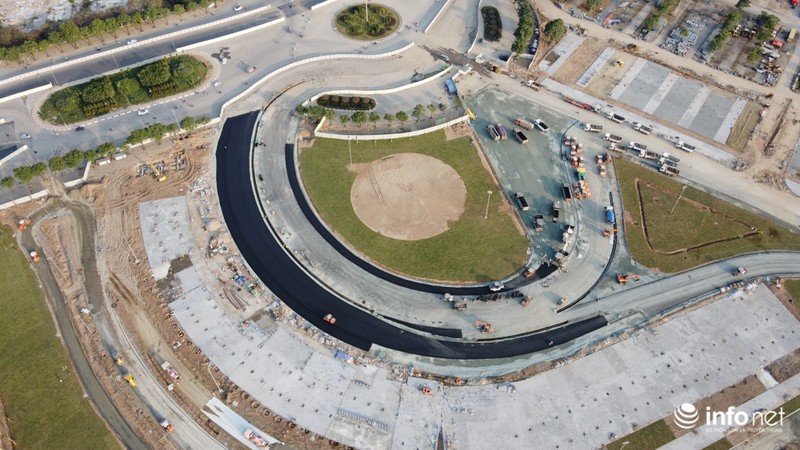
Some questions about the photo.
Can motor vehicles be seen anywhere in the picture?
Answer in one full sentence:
Yes, this view includes a motor vehicle.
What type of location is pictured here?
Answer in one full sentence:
The picture captures a sports ground.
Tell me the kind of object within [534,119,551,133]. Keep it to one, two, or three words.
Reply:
vehicle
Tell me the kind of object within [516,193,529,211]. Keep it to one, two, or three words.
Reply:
vehicle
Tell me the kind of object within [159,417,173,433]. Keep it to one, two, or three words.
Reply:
work vehicle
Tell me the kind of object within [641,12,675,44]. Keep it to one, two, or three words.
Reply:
shed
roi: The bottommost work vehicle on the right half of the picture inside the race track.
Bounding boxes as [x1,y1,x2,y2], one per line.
[473,318,495,334]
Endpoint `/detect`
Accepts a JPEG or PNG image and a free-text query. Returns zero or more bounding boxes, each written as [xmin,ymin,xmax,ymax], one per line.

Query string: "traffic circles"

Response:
[334,2,401,40]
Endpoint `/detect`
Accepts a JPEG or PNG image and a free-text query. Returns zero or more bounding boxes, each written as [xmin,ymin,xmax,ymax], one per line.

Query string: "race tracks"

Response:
[212,44,800,378]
